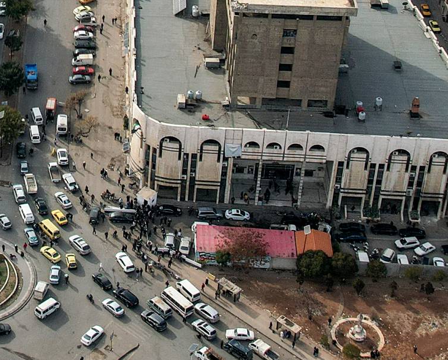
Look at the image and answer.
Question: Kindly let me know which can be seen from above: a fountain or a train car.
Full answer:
The one in the frame is a fountain.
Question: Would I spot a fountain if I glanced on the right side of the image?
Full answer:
Yes, I can see a fountain on the right side of the image.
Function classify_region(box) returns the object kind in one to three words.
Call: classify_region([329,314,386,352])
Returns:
fountain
